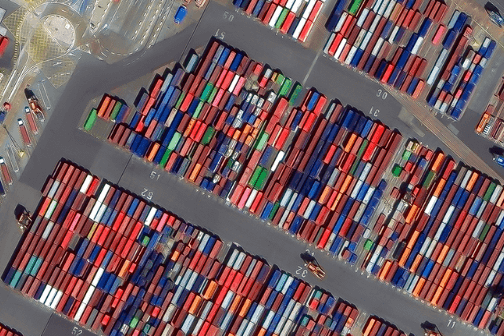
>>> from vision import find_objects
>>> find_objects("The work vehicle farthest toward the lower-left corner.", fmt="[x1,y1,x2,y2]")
[19,210,36,230]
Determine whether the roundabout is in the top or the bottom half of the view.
top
